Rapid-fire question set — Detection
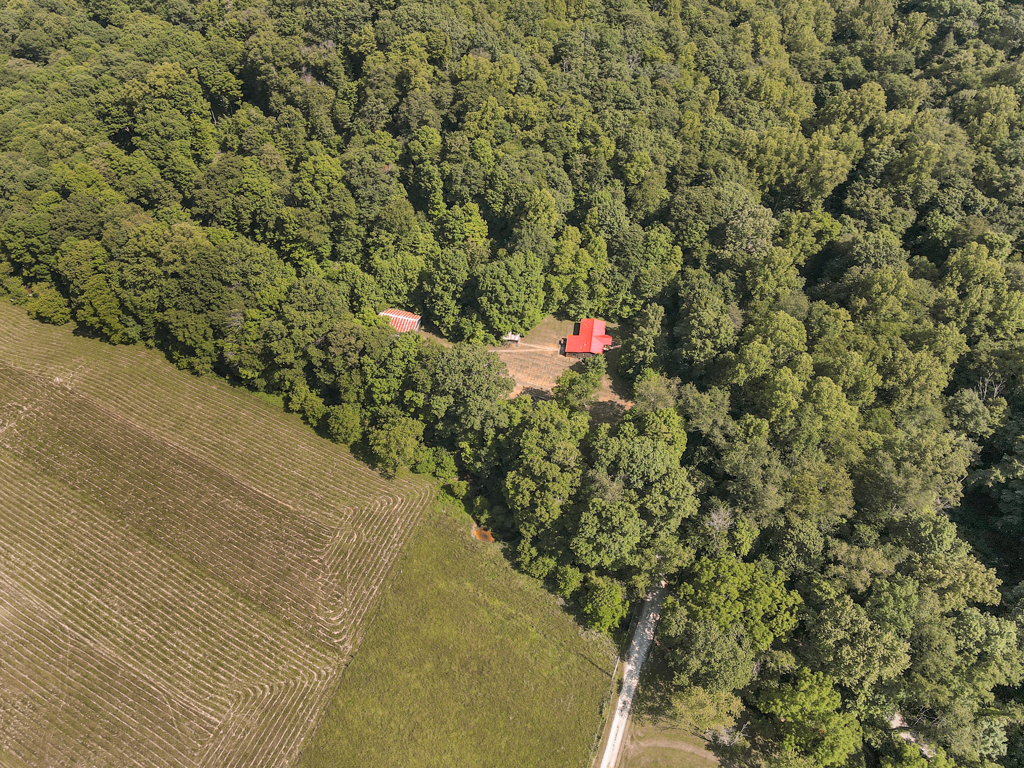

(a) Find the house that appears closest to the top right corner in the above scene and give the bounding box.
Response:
[563,322,612,363]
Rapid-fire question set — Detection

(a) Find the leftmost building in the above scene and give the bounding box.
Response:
[377,309,425,340]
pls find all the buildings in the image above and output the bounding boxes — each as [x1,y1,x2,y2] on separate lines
[377,309,425,340]
[563,322,612,363]
[503,331,520,343]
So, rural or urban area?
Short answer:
rural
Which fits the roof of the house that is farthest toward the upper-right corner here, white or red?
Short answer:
red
